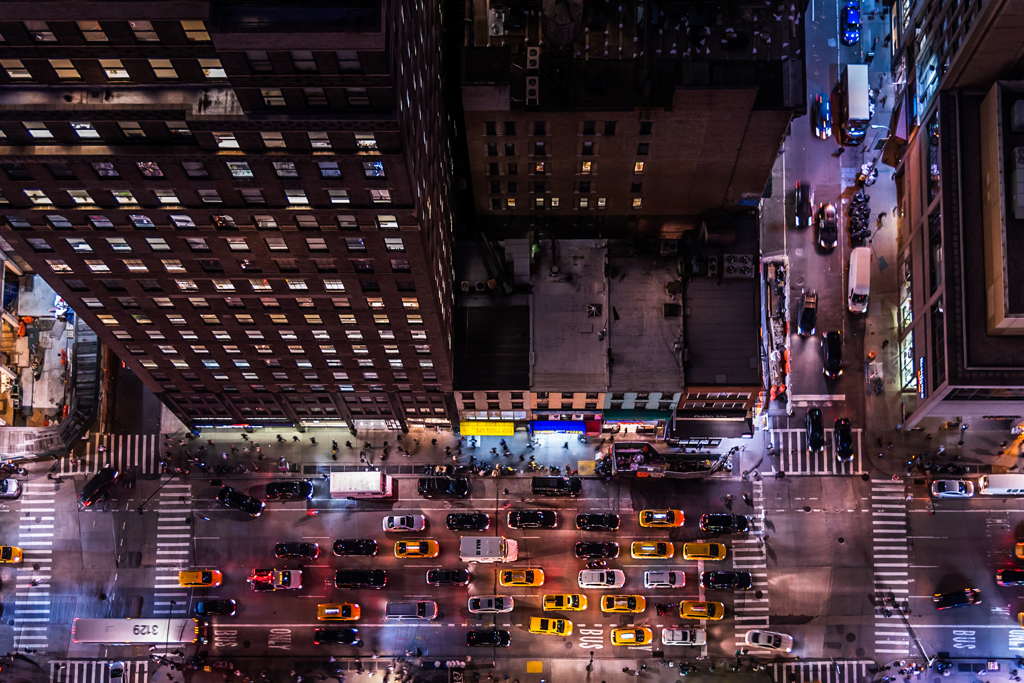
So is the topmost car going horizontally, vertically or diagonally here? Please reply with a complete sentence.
From this overhead view, the topmost car appears to run vertically.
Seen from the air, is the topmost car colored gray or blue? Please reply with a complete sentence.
From above, the topmost car appears blue.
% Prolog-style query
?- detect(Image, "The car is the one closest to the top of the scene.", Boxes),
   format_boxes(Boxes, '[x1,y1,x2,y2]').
[841,2,862,45]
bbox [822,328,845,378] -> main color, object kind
black car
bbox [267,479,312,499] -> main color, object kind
black car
